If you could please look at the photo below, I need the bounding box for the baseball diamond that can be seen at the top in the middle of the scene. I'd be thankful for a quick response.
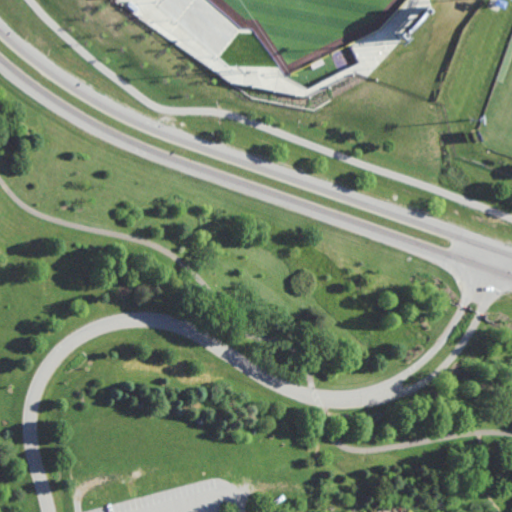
[208,0,404,74]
